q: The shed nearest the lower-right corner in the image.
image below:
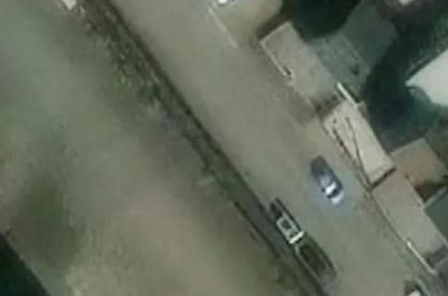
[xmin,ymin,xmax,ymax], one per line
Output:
[392,138,447,188]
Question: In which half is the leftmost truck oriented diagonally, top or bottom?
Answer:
bottom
